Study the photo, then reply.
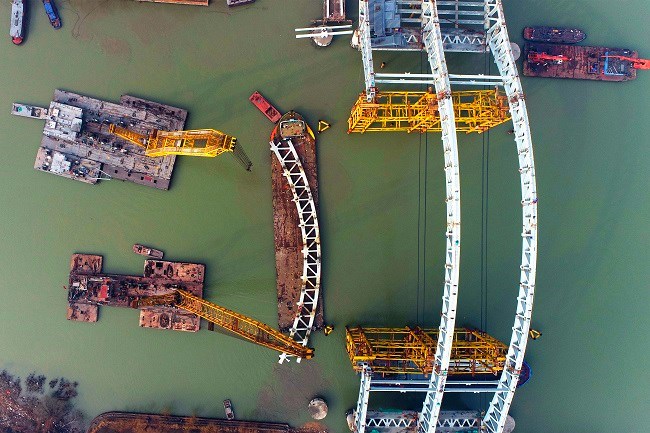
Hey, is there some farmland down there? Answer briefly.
No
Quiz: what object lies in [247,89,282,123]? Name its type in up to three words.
boat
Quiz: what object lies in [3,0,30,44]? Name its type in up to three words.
ship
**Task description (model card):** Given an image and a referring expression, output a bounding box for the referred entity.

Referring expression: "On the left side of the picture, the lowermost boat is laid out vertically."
[222,398,235,419]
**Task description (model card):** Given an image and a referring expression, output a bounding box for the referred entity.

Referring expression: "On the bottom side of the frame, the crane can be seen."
[66,254,316,359]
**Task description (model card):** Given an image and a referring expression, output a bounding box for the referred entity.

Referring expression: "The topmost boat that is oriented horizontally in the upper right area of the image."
[524,25,585,44]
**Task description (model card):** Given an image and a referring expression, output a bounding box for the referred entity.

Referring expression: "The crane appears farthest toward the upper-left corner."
[41,89,253,187]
